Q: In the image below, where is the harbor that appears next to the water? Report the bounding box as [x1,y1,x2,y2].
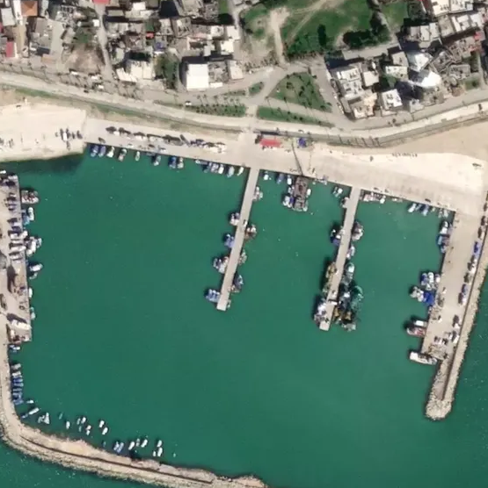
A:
[0,101,488,360]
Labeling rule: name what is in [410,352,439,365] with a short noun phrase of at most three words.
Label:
boat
